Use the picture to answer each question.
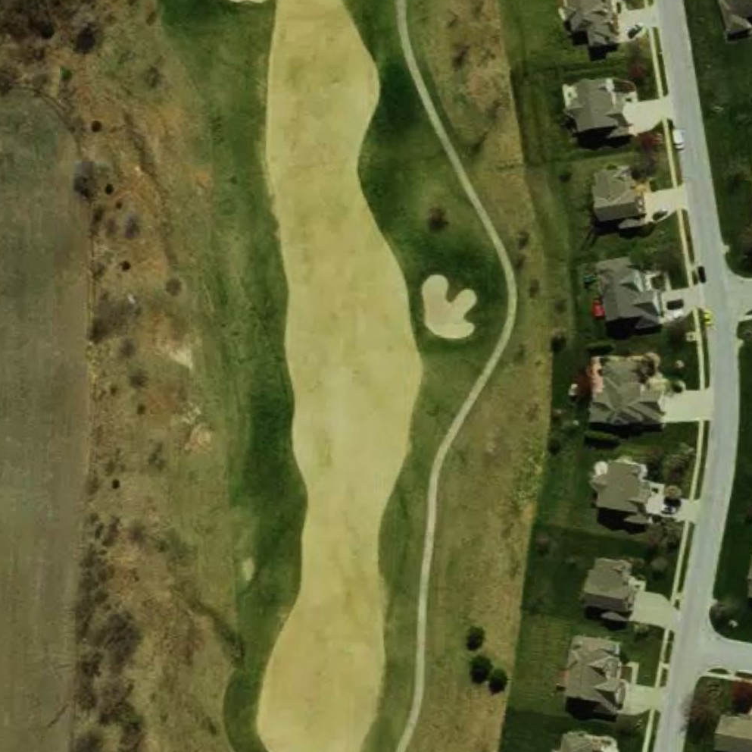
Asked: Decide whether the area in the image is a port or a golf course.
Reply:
golf course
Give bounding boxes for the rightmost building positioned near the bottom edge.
[713,711,752,752]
